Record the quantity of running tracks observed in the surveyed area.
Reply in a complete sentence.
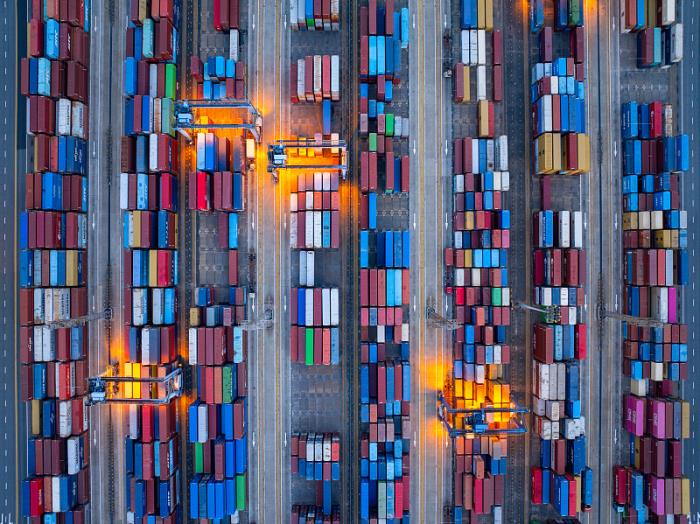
There are no running tracks in this view.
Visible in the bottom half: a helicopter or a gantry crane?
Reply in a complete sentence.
You can see a gantry crane in the bottom half.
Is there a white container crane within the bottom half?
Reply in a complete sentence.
No, the scene shows no white container crane within the bottom half.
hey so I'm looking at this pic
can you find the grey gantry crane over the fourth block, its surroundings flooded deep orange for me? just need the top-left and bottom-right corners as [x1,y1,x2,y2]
[265,140,349,187]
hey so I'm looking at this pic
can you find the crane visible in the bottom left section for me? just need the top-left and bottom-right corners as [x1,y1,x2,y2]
[80,357,187,404]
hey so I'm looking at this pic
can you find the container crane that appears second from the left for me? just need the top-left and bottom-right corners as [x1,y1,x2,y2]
[168,100,265,150]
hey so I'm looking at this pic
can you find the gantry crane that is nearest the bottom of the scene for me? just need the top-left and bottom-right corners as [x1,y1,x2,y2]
[436,385,533,435]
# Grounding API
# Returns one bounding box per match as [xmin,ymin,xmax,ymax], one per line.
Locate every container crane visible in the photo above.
[80,357,187,404]
[436,385,533,435]
[168,100,265,150]
[265,140,349,187]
